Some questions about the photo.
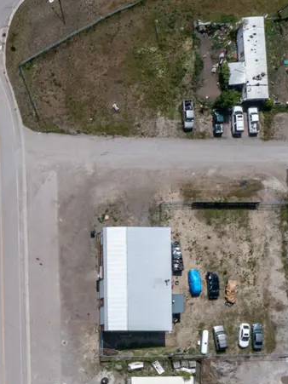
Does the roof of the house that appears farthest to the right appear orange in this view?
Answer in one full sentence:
No, the color of the roof of the house that appears farthest to the right is white.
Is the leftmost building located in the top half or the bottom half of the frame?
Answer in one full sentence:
The leftmost building is in the bottom half of the image.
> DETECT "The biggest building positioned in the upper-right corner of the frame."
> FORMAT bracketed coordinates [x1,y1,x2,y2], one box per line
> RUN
[234,16,269,106]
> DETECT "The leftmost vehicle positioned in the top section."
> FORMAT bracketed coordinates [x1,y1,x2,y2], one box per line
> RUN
[181,100,196,131]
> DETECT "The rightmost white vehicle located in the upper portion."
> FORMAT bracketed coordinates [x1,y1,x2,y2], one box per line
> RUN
[246,108,260,137]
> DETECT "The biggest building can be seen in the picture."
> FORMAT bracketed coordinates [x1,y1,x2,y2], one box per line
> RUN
[96,222,172,331]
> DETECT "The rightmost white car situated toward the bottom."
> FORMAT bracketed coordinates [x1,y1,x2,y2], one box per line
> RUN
[236,323,251,348]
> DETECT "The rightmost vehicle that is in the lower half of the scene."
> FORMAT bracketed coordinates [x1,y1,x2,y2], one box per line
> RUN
[250,324,264,349]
